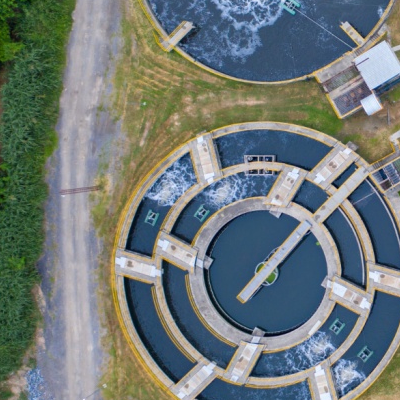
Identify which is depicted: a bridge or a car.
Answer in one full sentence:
It is a bridge that can be seen here.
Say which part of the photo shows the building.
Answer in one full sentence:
The building appears toward the top right of the photo.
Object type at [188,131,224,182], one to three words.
bridge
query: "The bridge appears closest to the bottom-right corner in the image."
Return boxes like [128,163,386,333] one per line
[305,364,339,400]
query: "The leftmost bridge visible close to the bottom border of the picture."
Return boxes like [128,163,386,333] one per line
[173,358,222,400]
